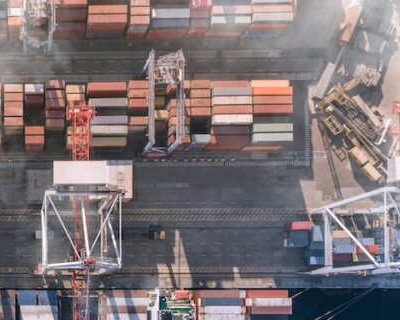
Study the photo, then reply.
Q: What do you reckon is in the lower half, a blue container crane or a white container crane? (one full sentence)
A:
The feature located in the lower half is a white container crane.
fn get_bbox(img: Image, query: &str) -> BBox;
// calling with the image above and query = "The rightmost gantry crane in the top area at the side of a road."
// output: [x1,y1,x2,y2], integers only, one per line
[136,49,185,156]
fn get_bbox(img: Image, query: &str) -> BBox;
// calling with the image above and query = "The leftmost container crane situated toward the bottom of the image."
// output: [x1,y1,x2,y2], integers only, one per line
[27,101,130,320]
